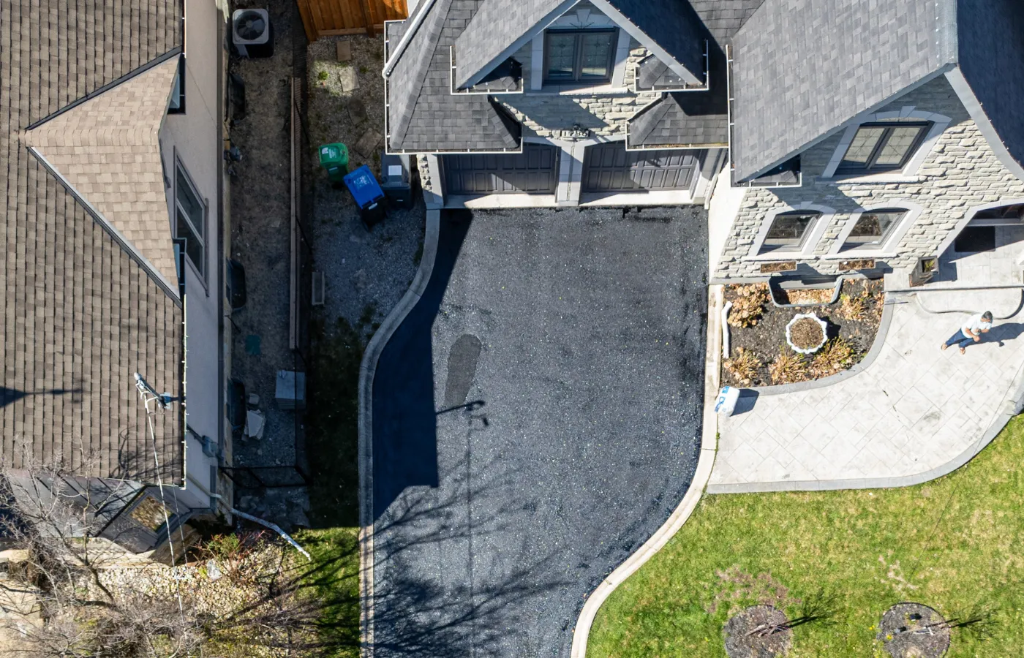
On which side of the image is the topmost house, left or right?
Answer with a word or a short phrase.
right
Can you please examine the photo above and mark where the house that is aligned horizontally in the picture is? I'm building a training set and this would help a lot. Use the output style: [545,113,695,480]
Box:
[378,0,1024,284]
